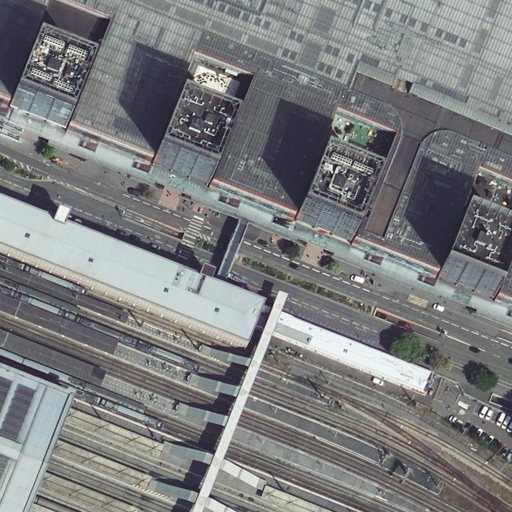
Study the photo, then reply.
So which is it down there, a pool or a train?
train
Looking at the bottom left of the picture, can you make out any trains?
Yes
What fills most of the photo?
buildings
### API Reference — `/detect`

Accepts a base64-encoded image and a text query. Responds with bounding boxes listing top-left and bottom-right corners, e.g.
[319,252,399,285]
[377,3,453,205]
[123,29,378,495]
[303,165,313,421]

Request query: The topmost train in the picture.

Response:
[0,254,87,296]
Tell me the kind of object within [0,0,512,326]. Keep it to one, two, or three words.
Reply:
building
